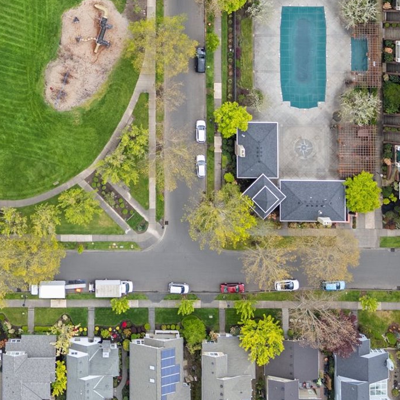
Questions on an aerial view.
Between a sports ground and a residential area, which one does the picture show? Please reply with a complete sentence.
The area seen from above is a residential area.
